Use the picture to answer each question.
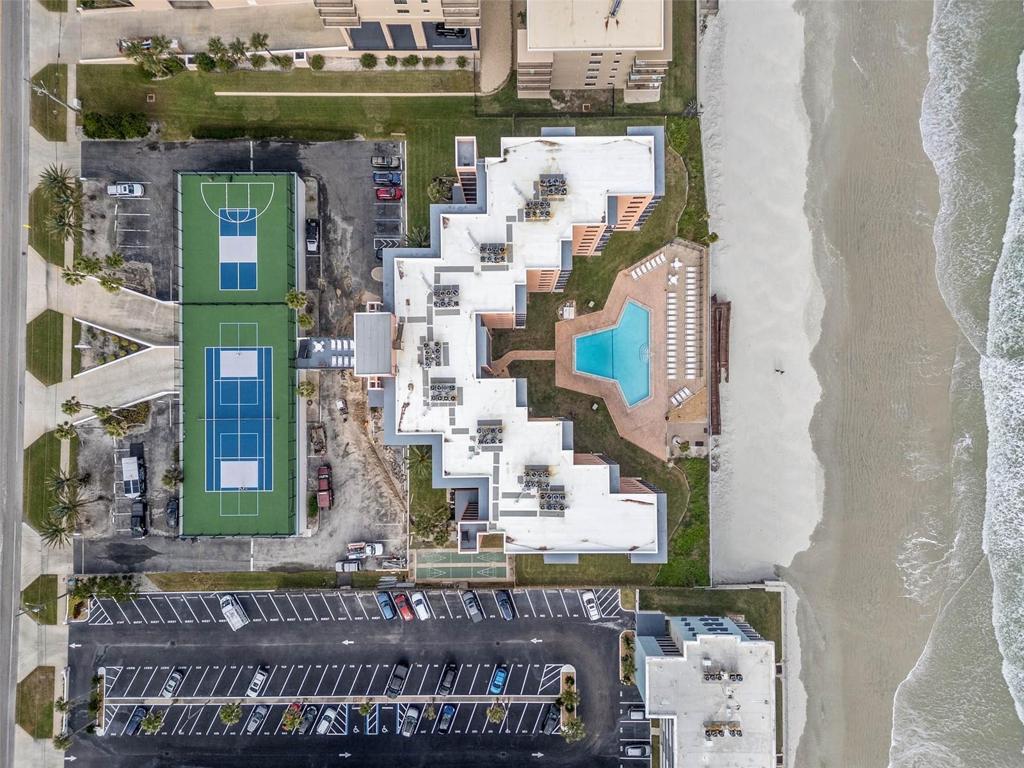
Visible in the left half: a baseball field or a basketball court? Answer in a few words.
basketball court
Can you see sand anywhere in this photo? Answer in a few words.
Yes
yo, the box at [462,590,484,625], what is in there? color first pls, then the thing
gray truck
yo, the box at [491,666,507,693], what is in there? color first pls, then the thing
blue car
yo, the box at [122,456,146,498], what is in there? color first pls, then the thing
white trailer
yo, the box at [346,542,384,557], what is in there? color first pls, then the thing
white vehicle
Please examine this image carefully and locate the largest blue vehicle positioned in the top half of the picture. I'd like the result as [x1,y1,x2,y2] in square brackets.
[374,171,402,185]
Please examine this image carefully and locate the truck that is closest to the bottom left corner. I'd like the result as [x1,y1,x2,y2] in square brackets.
[124,703,148,738]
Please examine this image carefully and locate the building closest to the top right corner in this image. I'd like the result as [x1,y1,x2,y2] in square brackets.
[517,0,672,98]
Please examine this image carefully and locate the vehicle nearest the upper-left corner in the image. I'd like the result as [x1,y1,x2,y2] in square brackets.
[104,182,145,198]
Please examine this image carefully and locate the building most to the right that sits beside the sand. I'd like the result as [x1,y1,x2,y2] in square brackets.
[633,608,775,768]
